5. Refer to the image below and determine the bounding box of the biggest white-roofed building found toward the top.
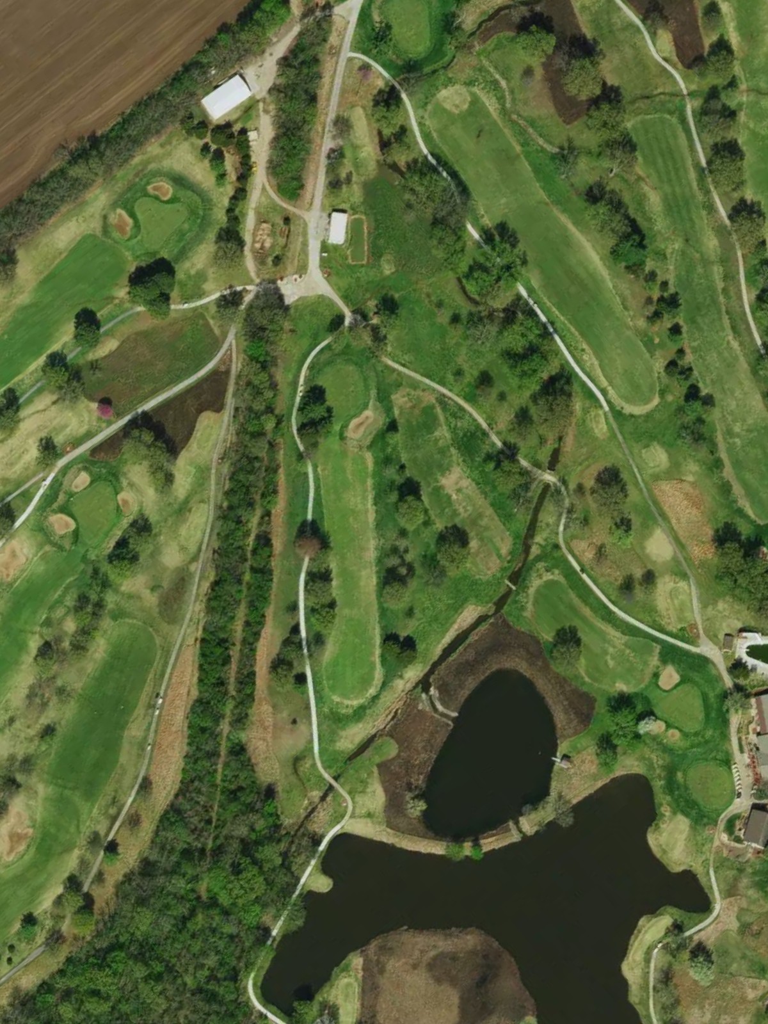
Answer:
[202,74,251,119]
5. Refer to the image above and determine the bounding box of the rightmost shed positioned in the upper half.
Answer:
[329,212,347,243]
